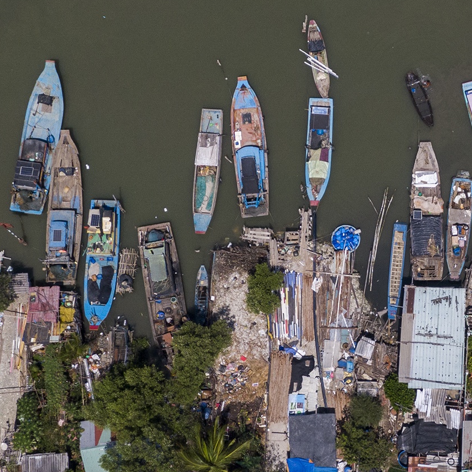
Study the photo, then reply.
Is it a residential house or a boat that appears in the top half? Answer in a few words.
boat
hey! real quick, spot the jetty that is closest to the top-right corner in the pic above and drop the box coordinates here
[298,210,313,250]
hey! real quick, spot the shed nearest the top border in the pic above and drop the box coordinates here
[27,286,73,322]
